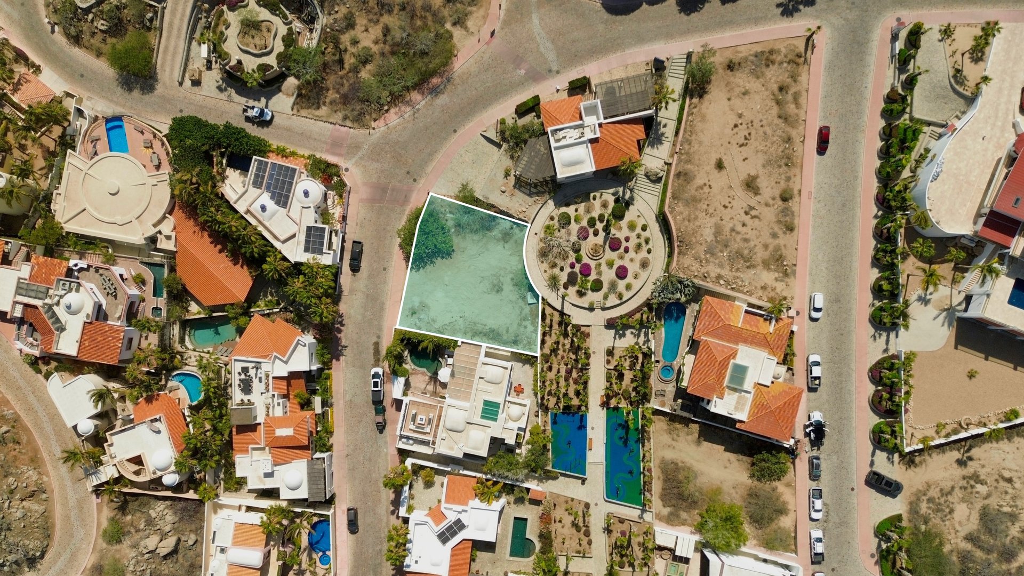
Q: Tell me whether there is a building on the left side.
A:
Yes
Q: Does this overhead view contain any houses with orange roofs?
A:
Yes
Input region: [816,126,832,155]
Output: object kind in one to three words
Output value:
car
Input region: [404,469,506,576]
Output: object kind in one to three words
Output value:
house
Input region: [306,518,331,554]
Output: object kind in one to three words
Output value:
swimming pool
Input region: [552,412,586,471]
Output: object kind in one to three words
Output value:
sports court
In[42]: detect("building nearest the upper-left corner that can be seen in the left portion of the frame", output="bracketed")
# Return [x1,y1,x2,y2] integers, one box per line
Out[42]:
[6,69,63,108]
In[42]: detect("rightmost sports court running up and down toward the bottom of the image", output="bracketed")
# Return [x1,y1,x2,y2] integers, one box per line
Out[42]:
[607,408,643,507]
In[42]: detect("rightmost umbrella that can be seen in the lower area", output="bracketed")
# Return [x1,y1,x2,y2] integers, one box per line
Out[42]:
[438,368,451,381]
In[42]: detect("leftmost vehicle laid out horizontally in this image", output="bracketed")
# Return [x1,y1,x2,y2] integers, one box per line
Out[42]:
[241,104,275,122]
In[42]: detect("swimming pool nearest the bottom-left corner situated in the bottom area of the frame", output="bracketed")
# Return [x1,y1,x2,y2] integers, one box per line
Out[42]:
[170,370,205,405]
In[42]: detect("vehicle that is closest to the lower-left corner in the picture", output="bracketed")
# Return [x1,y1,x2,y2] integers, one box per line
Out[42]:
[345,506,359,534]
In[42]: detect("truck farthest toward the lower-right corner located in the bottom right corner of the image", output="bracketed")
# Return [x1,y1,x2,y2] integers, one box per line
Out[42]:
[865,470,902,494]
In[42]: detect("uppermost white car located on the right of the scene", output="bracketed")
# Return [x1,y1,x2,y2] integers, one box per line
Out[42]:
[809,293,824,320]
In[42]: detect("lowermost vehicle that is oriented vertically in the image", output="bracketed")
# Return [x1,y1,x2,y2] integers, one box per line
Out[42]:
[809,528,825,564]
